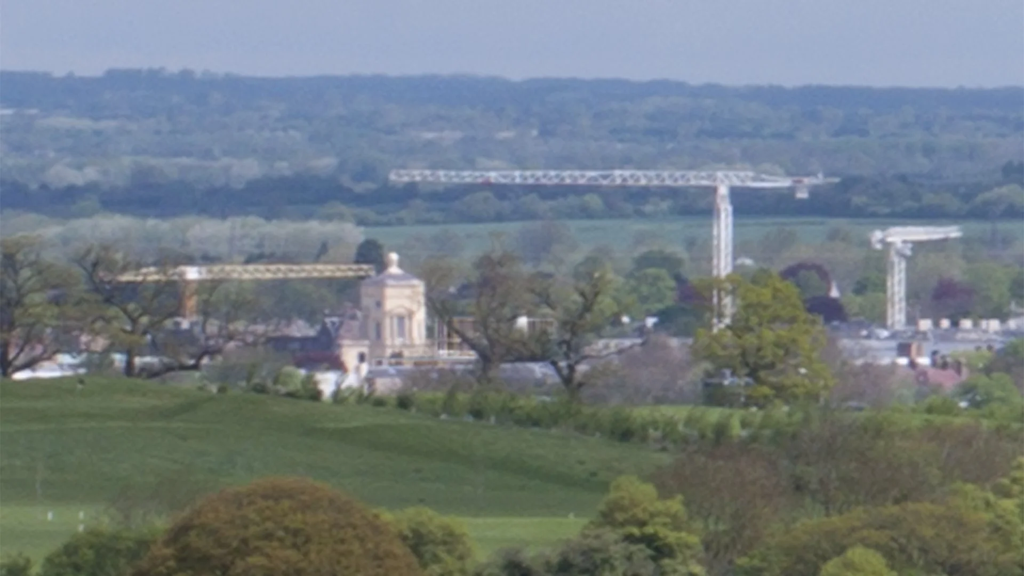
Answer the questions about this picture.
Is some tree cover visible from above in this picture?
Yes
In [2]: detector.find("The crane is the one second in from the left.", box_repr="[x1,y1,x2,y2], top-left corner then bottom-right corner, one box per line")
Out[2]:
[397,169,840,373]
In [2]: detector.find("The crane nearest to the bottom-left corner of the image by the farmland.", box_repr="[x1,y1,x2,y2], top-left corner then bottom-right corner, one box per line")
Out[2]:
[119,263,376,340]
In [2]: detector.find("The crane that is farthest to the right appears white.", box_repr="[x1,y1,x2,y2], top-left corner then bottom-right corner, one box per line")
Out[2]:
[873,230,959,325]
